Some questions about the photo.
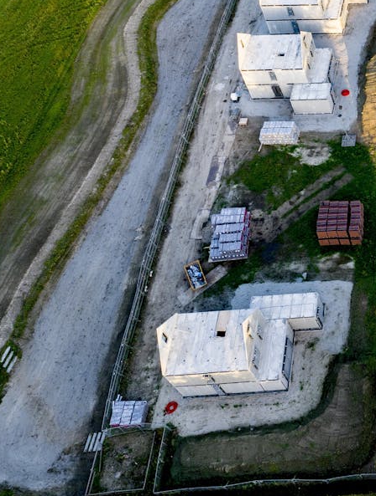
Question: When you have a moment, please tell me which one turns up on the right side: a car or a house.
house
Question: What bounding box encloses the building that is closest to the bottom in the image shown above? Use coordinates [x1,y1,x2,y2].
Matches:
[161,290,323,398]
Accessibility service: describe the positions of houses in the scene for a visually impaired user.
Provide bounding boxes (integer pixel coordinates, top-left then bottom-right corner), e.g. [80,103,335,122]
[241,35,339,114]
[260,0,368,33]
[161,290,323,398]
